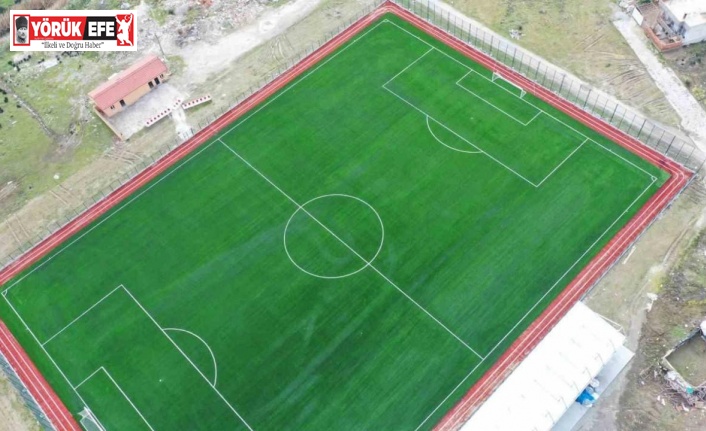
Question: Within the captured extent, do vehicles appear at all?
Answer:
No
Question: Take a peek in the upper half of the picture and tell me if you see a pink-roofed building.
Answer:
Yes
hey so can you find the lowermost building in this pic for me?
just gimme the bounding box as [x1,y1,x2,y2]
[88,57,170,117]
